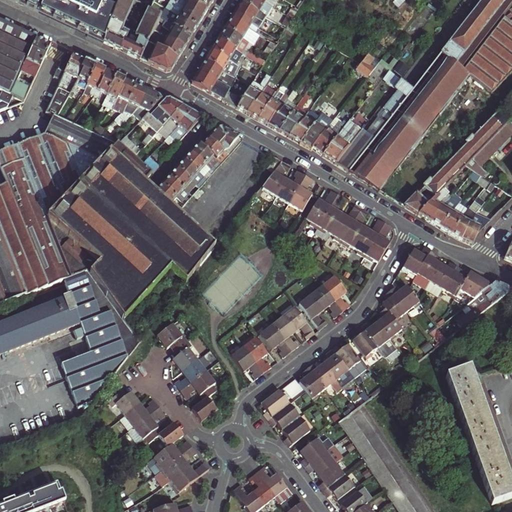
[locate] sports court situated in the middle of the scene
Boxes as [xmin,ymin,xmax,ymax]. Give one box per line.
[204,255,262,316]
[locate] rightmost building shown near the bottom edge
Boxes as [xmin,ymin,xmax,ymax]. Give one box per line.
[446,360,512,505]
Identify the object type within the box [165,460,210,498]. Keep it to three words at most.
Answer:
house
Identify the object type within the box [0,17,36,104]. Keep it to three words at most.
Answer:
building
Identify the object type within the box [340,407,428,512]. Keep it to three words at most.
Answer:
shed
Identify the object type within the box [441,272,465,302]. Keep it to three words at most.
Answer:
house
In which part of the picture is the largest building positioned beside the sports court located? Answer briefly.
left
